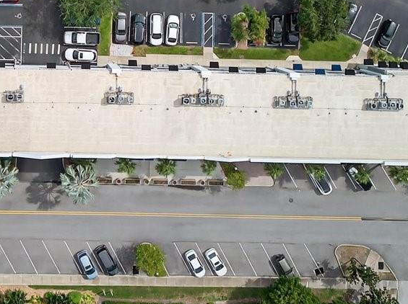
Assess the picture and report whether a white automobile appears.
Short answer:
Yes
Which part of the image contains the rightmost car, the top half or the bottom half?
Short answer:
top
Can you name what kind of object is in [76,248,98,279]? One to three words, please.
car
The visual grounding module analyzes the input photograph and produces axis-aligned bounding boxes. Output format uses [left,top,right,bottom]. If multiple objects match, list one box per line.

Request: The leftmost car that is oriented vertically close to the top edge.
[114,12,128,43]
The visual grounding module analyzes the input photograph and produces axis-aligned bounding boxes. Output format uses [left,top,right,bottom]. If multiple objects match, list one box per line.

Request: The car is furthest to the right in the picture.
[374,18,397,50]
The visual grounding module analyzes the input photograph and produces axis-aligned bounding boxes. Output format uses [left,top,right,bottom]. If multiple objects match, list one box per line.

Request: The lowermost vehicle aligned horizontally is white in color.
[64,48,96,62]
